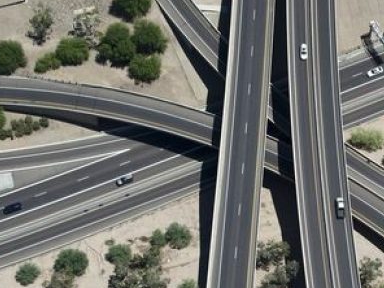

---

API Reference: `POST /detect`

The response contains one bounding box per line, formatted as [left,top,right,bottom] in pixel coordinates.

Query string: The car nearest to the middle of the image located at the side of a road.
[115,174,134,186]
